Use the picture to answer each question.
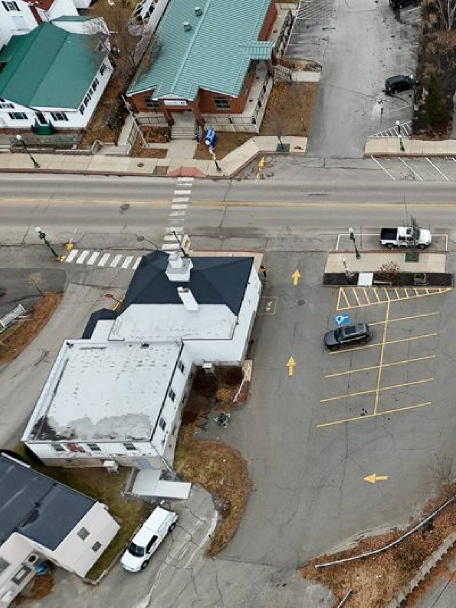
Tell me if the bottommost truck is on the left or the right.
left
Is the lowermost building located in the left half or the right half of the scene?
left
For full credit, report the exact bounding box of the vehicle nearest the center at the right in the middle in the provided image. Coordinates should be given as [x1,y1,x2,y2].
[323,322,373,353]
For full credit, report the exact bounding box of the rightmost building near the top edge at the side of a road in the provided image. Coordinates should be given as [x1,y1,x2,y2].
[126,0,288,149]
